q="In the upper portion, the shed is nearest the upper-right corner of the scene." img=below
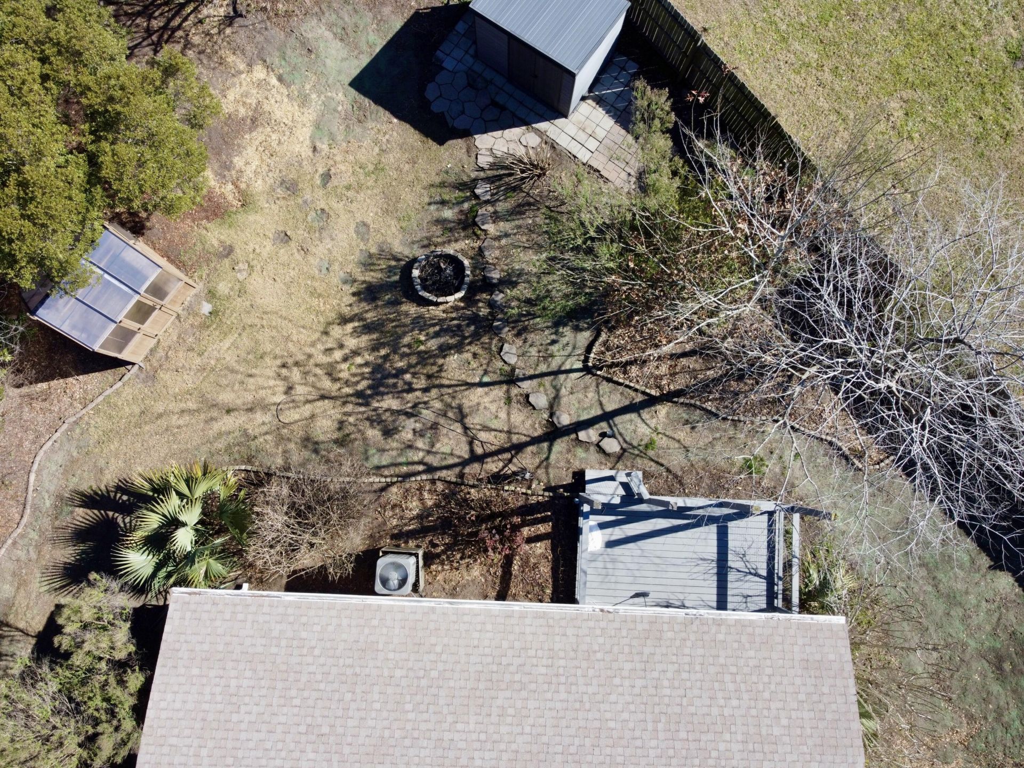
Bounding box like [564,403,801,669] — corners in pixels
[469,0,629,112]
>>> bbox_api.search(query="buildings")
[135,583,865,768]
[469,0,629,112]
[3,212,196,363]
